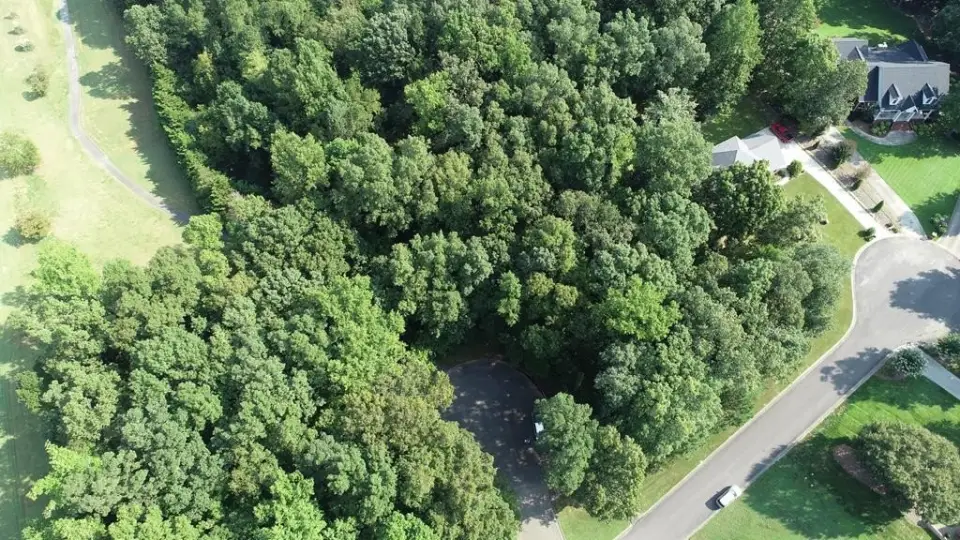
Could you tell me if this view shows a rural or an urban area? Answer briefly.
rural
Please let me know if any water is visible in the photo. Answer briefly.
No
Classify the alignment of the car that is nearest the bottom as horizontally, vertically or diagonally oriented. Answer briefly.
diagonally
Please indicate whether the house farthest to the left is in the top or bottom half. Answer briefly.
top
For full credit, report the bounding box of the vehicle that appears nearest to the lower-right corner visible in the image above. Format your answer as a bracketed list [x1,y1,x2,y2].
[718,486,743,509]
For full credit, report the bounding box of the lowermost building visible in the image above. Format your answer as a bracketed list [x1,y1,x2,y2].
[712,135,788,179]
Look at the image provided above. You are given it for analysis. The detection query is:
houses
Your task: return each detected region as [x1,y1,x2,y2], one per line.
[712,135,788,179]
[822,38,952,128]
